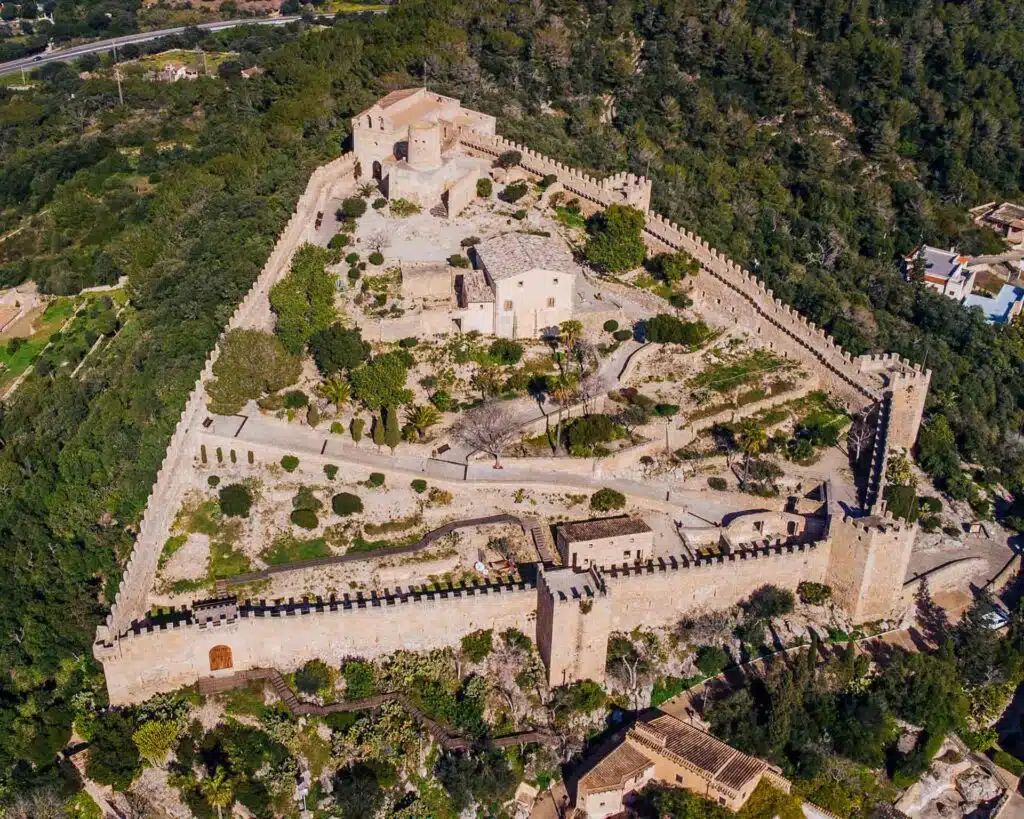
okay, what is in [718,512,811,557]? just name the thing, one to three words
building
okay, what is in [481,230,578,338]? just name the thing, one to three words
house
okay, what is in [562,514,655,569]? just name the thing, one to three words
house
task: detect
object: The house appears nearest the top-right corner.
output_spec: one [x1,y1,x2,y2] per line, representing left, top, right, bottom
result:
[981,201,1024,272]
